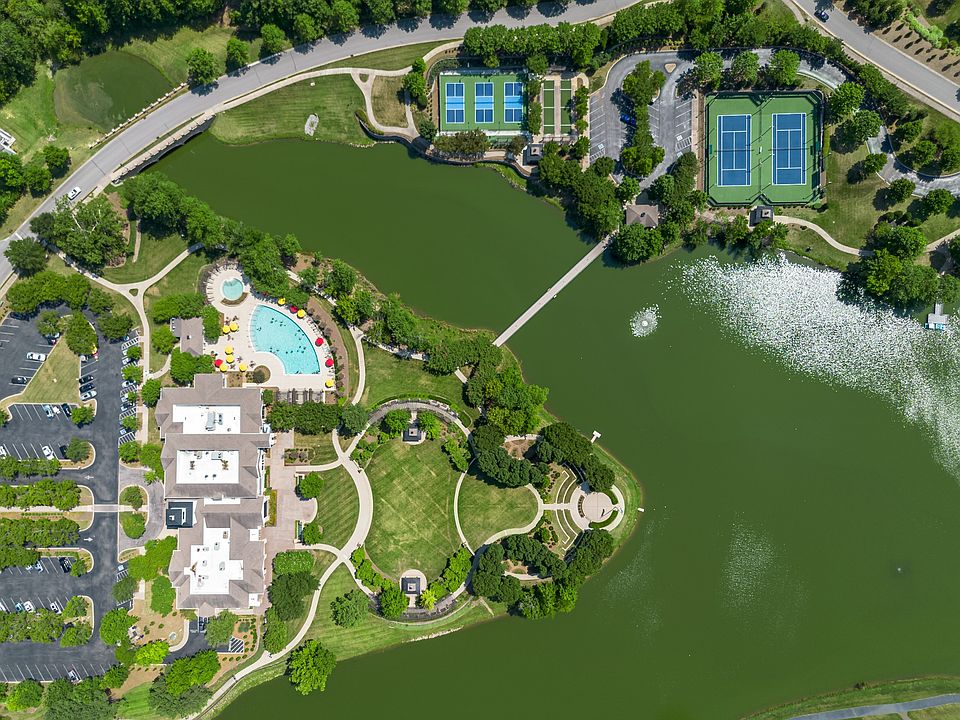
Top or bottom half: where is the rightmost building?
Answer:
top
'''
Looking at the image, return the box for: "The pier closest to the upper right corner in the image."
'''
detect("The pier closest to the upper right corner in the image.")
[926,300,950,324]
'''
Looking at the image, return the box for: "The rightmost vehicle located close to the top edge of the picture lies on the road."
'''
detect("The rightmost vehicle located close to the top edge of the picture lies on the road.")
[815,8,828,22]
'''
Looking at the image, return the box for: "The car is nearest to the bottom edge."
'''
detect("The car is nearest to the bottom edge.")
[67,668,80,683]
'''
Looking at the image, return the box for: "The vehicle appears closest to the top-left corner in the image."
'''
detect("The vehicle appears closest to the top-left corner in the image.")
[67,187,82,199]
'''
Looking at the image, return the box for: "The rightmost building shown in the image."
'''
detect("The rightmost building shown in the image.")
[745,205,774,230]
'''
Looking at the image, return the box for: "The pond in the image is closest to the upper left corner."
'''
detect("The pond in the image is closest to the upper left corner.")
[54,52,195,136]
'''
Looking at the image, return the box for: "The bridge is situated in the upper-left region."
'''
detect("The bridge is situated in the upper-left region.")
[112,113,217,185]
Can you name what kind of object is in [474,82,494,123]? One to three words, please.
sports court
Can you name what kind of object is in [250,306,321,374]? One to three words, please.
swimming pool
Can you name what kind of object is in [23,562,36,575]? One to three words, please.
vehicle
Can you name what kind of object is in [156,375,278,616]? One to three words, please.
building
